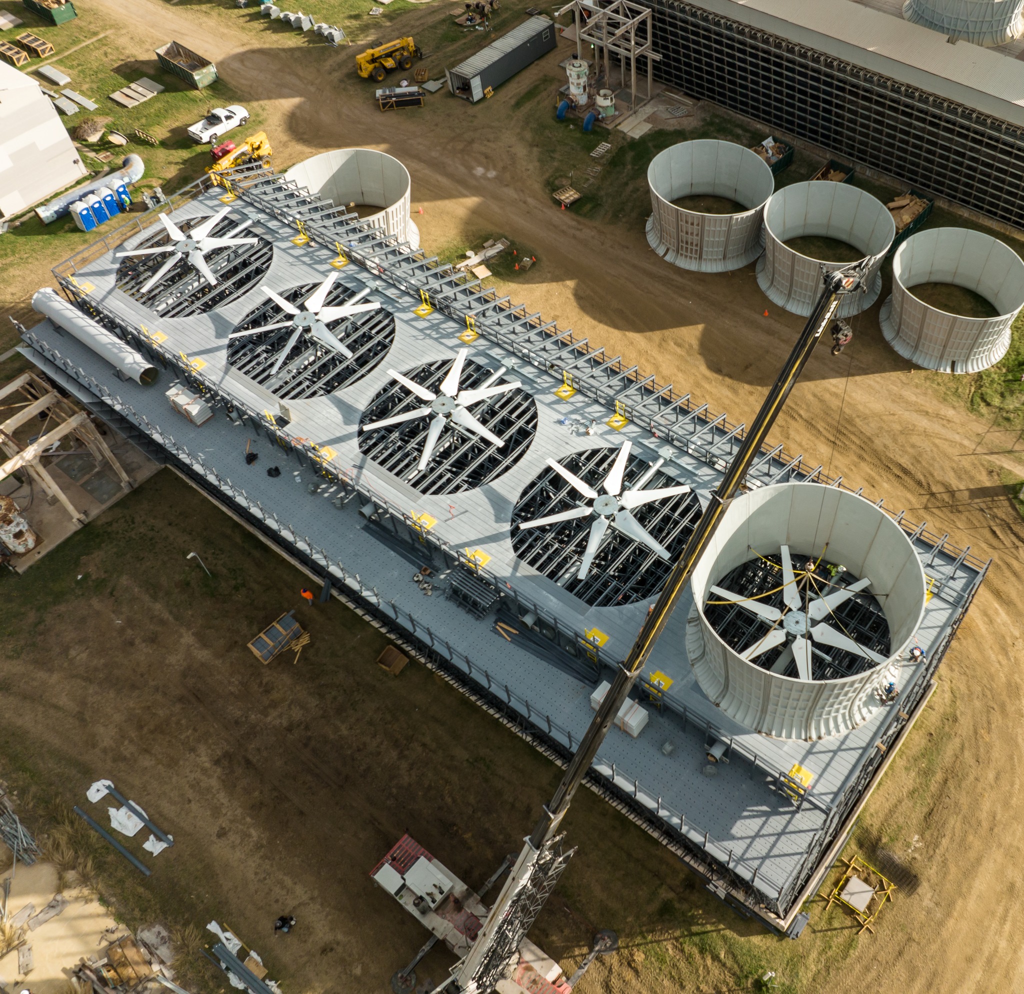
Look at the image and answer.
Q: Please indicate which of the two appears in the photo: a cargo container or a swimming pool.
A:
cargo container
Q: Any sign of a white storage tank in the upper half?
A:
No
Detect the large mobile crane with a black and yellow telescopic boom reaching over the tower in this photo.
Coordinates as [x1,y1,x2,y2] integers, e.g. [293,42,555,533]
[362,258,871,994]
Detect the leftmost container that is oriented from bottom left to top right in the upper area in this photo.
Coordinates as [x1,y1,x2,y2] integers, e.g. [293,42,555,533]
[444,14,557,102]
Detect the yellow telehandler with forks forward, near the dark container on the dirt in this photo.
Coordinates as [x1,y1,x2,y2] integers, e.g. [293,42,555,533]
[345,38,425,83]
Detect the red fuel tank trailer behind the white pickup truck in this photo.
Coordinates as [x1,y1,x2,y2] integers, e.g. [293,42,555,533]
[203,132,239,164]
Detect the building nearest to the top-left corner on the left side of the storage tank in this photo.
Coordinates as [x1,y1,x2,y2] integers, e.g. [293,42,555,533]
[0,56,88,219]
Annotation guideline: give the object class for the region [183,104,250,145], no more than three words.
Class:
truck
